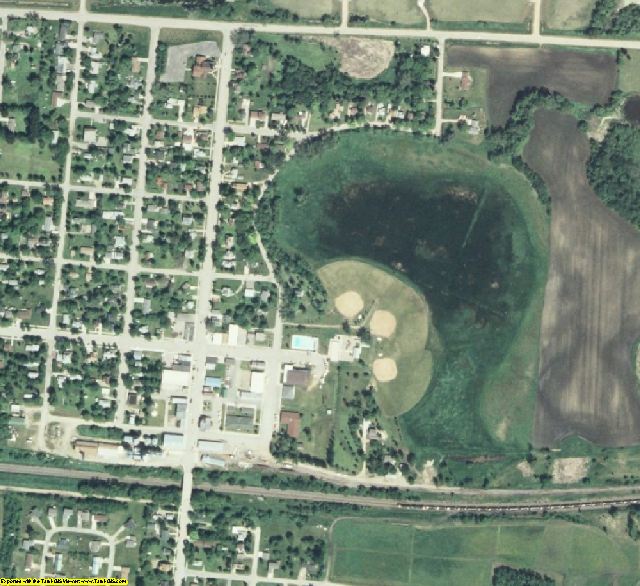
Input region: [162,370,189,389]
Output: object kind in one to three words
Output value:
building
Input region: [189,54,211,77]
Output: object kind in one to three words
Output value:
building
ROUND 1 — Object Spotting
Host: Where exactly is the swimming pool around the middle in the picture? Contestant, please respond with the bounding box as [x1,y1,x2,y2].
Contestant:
[291,335,318,351]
